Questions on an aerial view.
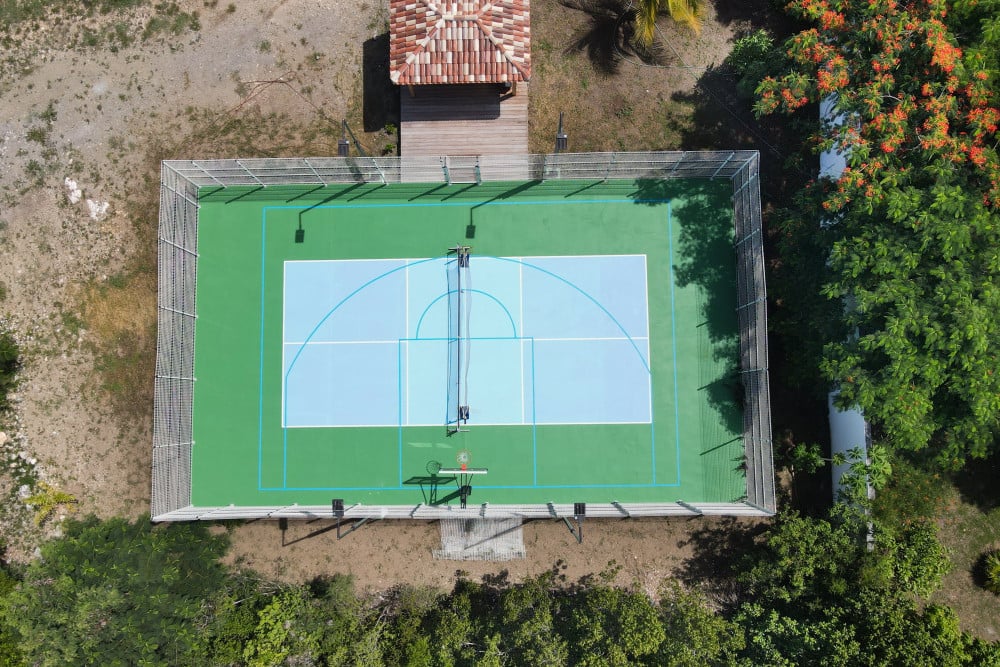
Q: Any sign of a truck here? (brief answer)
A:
No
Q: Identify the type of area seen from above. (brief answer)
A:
sports ground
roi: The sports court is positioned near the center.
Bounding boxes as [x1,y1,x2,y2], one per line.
[190,176,747,511]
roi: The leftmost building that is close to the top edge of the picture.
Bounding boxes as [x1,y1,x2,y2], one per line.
[389,0,532,100]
